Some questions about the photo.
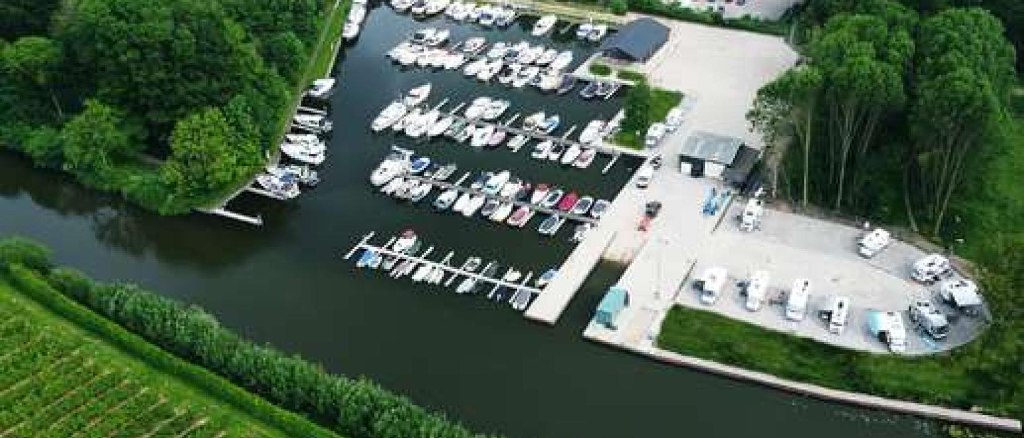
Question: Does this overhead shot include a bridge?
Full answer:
No, the picture doesn't show any bridge.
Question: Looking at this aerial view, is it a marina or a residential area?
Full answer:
The area seen from above is a marina.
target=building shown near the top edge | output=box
[597,19,673,65]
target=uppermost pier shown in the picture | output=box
[408,41,567,74]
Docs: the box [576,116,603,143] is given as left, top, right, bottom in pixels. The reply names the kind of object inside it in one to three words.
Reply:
boat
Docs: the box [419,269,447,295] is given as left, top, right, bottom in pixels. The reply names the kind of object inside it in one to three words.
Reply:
boat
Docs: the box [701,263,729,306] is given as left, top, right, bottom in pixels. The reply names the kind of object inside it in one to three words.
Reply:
camper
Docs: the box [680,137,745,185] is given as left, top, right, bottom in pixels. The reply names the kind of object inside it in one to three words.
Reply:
shed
